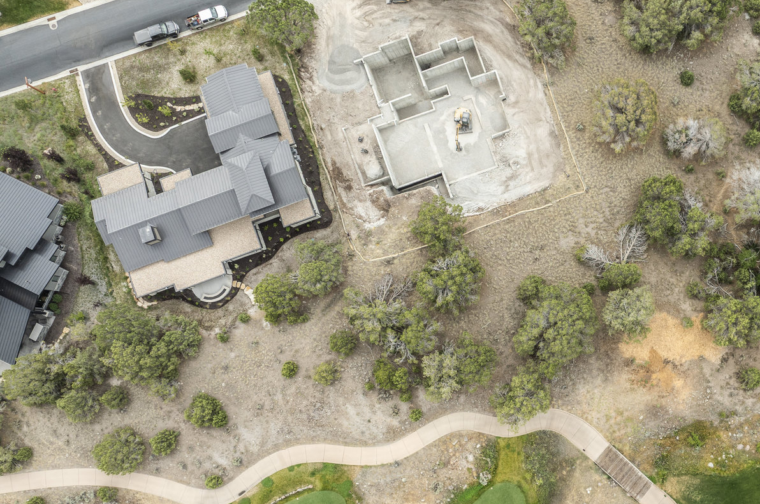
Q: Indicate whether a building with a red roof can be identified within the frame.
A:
No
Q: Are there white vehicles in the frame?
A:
Yes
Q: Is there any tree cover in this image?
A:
Yes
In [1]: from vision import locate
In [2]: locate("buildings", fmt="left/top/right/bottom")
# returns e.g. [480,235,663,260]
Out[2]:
[91,64,325,298]
[0,172,83,365]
